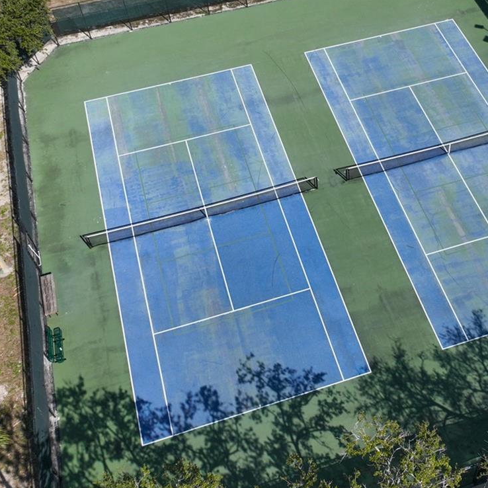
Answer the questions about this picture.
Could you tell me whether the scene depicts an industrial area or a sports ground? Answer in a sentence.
It's a sports ground.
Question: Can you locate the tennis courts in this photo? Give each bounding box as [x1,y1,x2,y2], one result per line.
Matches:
[86,64,370,444]
[305,20,488,348]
